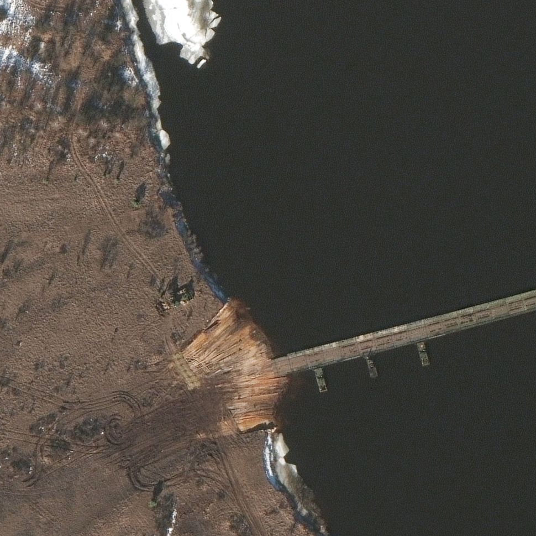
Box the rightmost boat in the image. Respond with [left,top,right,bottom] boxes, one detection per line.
[418,341,431,366]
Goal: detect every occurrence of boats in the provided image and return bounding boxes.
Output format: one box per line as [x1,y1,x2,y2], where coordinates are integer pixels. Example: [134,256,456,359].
[367,356,378,378]
[418,341,431,366]
[314,368,327,393]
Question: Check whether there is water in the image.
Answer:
Yes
